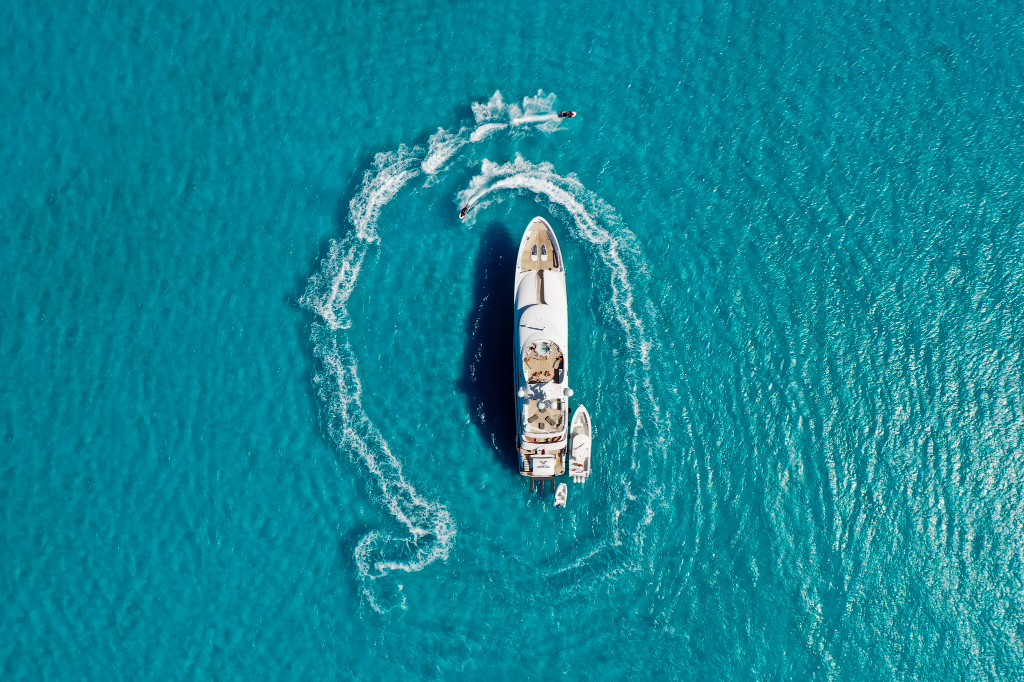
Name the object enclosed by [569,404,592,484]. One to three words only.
boat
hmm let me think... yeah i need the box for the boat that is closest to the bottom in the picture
[553,482,568,510]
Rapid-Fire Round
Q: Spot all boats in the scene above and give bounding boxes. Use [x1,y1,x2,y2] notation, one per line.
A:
[553,482,568,510]
[558,111,576,118]
[569,404,592,484]
[460,203,470,219]
[513,217,573,477]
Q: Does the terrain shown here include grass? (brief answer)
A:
No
